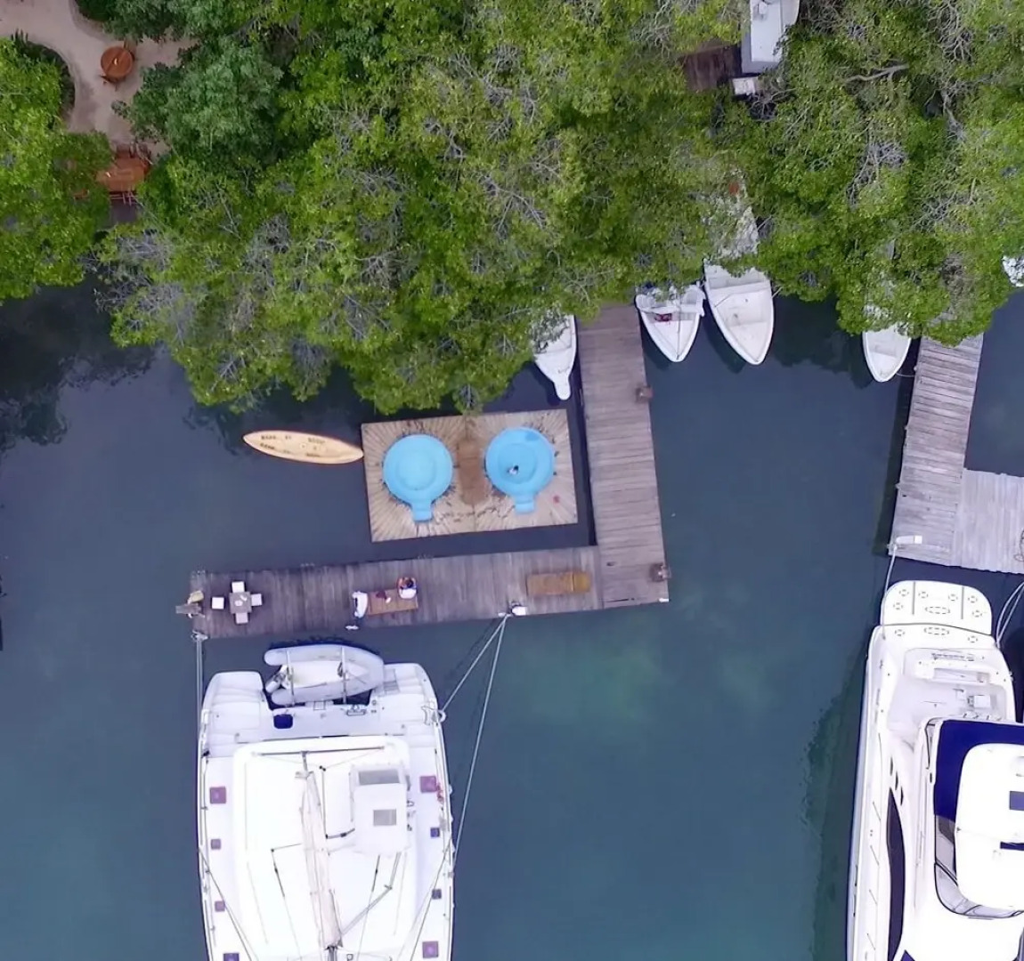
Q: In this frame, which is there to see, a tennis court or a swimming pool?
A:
swimming pool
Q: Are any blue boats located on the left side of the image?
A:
No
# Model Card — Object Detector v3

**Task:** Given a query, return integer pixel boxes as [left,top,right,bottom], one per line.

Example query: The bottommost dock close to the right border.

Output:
[953,469,1024,579]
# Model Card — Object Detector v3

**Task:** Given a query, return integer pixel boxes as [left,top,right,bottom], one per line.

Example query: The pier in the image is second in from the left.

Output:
[566,107,668,608]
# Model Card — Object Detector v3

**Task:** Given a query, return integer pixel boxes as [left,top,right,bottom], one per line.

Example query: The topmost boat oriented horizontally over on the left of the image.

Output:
[243,428,363,462]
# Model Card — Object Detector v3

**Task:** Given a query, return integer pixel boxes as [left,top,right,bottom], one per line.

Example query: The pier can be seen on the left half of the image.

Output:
[191,546,603,638]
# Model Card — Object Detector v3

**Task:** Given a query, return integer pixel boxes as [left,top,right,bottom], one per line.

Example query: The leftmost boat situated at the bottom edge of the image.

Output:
[198,646,455,961]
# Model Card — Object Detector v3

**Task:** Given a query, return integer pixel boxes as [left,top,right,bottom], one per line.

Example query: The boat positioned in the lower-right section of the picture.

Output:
[849,580,1024,961]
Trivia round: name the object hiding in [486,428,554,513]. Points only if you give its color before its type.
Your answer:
blue swimming pool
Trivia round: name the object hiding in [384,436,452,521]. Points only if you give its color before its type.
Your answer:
blue swimming pool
